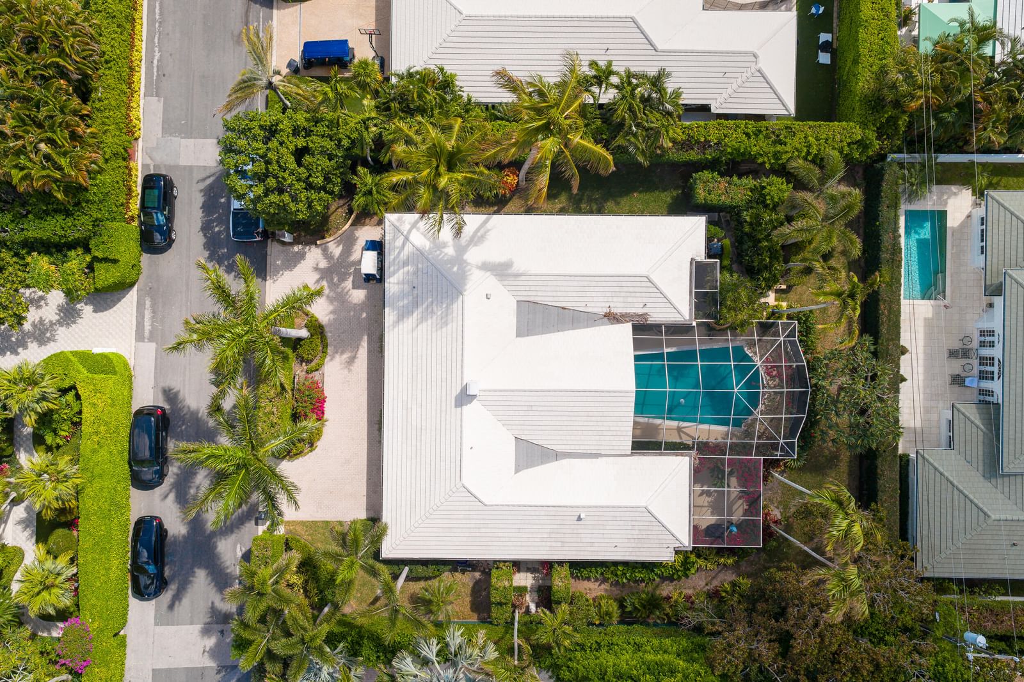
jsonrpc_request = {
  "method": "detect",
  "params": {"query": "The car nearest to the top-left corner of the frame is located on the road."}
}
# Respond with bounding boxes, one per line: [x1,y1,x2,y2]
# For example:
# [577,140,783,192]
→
[135,173,179,250]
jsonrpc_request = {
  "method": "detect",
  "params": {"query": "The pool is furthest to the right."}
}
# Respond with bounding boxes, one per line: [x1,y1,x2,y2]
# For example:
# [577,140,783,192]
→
[900,205,956,307]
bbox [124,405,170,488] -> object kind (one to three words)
car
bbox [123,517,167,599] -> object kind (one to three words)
car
